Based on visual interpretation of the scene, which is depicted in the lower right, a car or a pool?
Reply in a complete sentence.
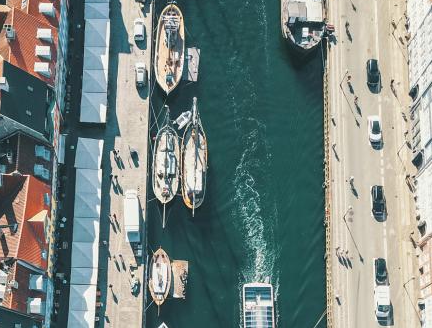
There is a car in the lower right.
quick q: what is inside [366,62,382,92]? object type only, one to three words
car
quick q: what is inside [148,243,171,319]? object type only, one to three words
boat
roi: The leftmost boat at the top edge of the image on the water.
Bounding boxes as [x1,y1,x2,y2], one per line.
[155,0,185,99]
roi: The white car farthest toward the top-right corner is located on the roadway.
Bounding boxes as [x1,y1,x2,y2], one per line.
[366,116,383,144]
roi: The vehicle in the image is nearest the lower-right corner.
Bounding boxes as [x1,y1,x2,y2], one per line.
[373,284,392,321]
